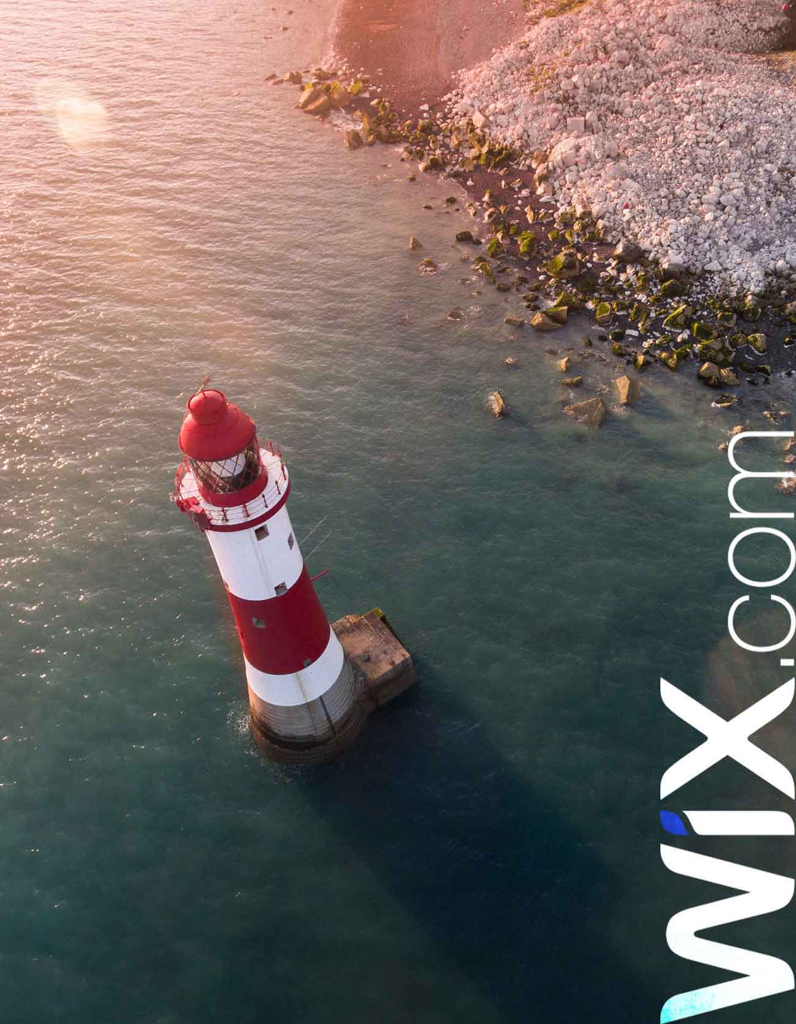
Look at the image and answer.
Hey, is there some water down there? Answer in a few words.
Yes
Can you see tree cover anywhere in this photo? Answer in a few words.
No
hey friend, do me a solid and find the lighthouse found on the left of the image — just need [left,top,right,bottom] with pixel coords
[165,367,368,771]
